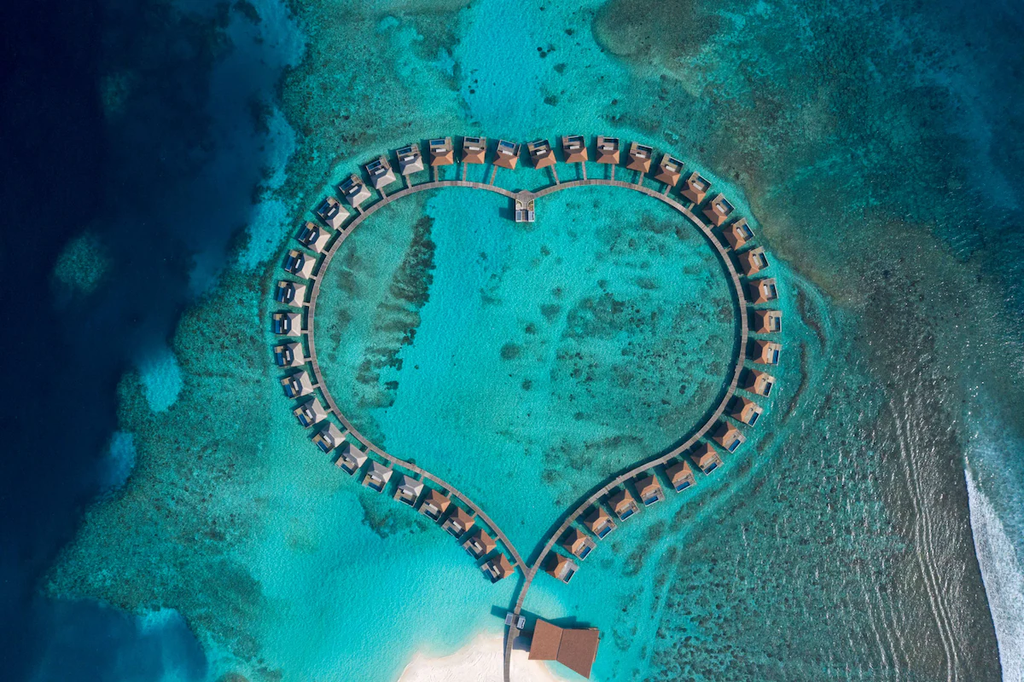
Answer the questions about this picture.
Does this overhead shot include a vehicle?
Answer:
No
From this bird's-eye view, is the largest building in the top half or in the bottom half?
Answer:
bottom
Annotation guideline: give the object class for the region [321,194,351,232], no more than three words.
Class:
house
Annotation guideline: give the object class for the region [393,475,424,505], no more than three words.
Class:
house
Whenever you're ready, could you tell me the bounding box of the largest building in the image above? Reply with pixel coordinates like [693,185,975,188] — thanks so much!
[528,619,600,679]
